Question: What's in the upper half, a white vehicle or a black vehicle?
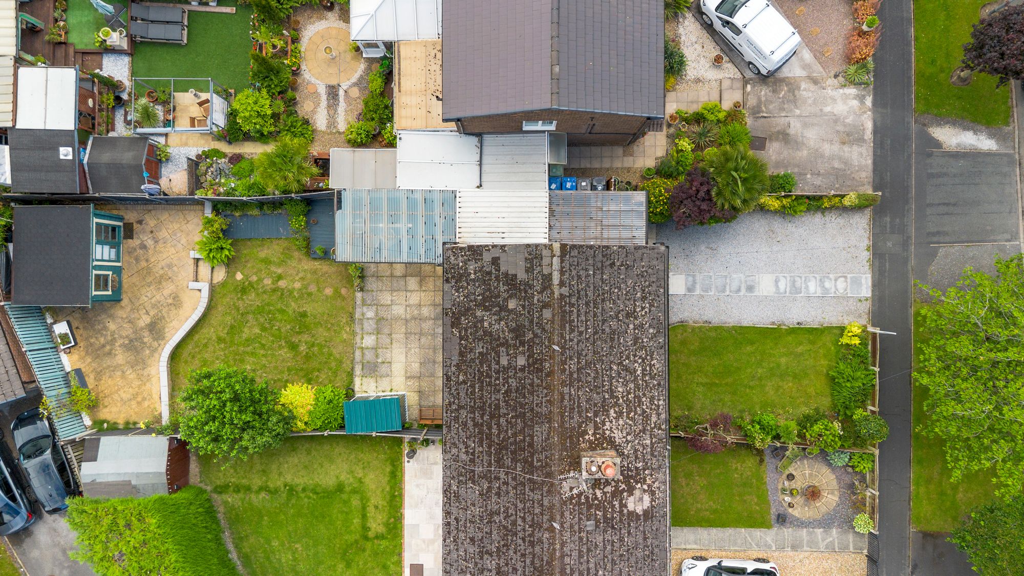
white vehicle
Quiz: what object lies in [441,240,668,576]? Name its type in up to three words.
house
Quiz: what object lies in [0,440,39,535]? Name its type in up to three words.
car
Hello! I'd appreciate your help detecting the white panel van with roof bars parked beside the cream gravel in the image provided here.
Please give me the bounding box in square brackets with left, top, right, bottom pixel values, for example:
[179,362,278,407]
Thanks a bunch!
[700,0,804,81]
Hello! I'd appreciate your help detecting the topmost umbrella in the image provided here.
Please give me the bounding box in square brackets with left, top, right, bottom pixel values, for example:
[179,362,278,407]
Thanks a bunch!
[90,0,130,28]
